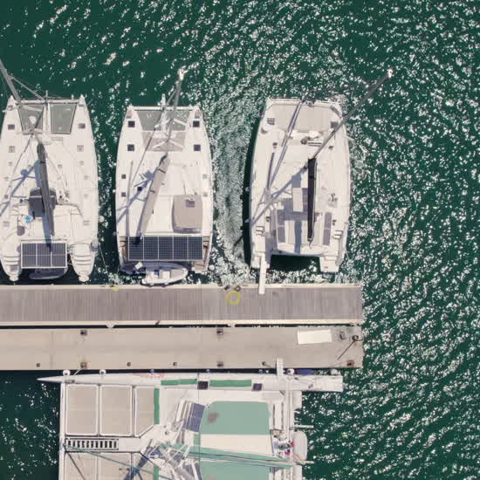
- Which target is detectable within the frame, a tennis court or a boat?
boat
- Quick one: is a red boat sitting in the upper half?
No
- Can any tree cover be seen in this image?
No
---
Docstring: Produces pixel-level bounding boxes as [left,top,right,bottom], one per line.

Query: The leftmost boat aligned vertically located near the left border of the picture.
[0,59,99,285]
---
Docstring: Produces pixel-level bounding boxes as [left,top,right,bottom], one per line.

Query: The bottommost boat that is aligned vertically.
[296,431,308,459]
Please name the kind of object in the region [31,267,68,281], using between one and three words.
boat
